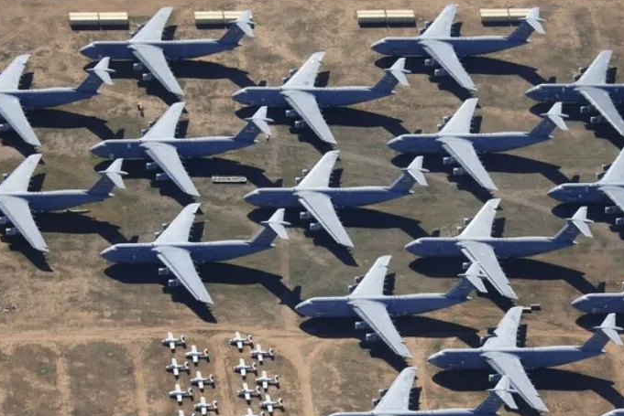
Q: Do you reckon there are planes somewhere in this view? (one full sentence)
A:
Yes, looking at the shot, I can spot a plane.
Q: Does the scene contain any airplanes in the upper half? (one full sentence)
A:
Yes, I can see an airplane in the upper half.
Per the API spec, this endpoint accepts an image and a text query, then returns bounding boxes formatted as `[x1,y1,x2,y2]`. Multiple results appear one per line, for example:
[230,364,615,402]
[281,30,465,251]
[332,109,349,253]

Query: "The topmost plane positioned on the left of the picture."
[79,7,255,93]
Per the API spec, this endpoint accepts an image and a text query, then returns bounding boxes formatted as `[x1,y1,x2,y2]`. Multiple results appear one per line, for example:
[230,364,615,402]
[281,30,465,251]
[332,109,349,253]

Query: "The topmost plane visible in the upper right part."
[371,3,546,90]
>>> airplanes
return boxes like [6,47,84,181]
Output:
[371,3,546,90]
[237,384,261,401]
[259,397,283,414]
[329,365,518,416]
[294,253,488,358]
[231,334,254,350]
[194,399,218,416]
[231,52,411,142]
[234,359,256,376]
[428,305,624,413]
[0,153,127,251]
[404,198,593,298]
[169,385,193,402]
[191,373,213,390]
[525,49,624,135]
[166,359,189,376]
[79,7,255,93]
[100,202,290,304]
[185,346,209,363]
[548,147,624,226]
[90,101,273,195]
[250,346,273,363]
[572,280,624,314]
[243,148,429,246]
[162,333,186,350]
[0,53,113,144]
[255,373,279,390]
[387,96,570,189]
